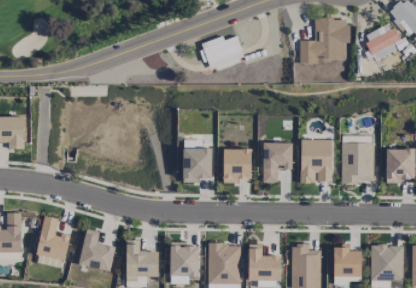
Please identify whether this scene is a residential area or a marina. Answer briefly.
residential area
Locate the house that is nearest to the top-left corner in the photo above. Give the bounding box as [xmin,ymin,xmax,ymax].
[0,116,25,150]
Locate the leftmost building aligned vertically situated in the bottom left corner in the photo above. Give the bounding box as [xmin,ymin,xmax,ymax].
[0,213,22,266]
